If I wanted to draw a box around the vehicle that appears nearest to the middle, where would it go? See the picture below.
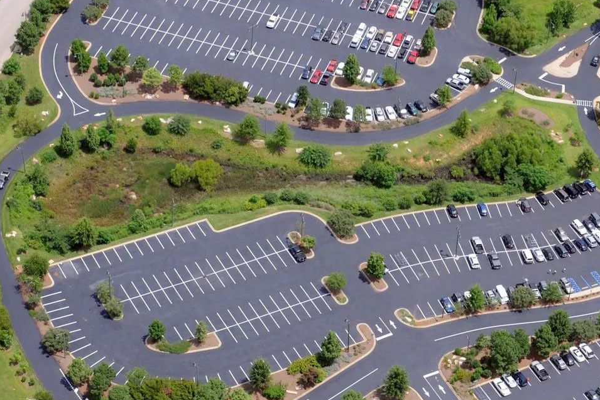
[289,240,303,259]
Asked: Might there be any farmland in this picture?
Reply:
No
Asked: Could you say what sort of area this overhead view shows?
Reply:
parking lot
